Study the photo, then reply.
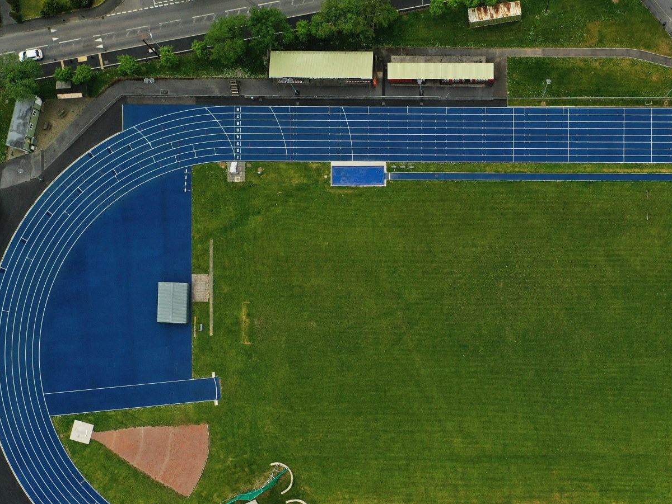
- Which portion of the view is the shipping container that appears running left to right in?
top right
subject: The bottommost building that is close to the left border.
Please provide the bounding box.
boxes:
[5,94,44,152]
